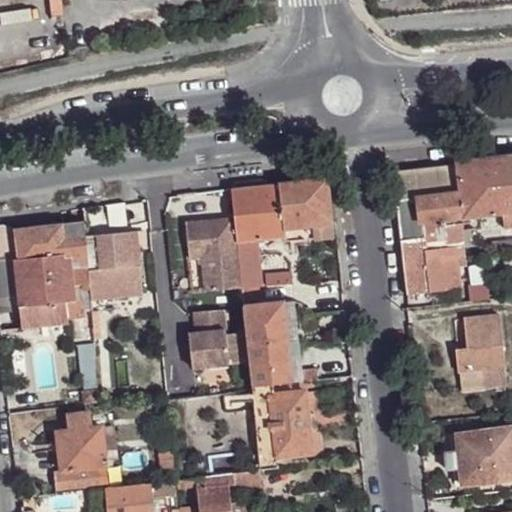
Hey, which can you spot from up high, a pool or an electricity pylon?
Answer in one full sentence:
Of the two, only a pool appears.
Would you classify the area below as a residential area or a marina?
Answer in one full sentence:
This image shows a residential area.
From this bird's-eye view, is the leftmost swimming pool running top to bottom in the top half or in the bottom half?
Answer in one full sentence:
The leftmost swimming pool running top to bottom is in the bottom half of the image.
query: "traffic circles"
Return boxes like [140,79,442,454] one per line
[320,74,362,116]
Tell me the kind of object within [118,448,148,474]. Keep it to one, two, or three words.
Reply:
swimming pool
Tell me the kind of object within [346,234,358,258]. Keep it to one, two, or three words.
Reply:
vehicle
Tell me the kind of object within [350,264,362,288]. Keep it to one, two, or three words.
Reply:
vehicle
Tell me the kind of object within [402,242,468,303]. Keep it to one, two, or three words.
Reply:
house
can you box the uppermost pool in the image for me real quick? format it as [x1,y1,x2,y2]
[32,340,58,392]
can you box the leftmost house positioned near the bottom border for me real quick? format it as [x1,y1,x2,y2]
[54,410,110,491]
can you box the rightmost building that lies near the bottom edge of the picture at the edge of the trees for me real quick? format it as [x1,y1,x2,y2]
[454,424,512,492]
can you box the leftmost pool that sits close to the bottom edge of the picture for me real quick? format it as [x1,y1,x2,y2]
[50,493,76,510]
